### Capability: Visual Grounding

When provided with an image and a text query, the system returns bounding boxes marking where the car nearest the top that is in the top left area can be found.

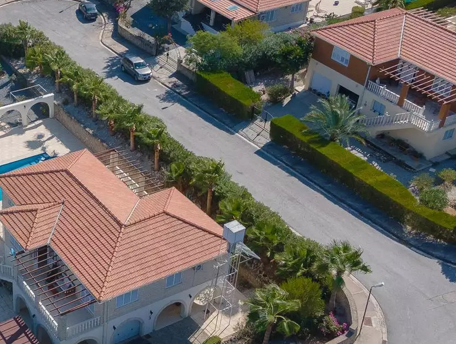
[78,0,99,18]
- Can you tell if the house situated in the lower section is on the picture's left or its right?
left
